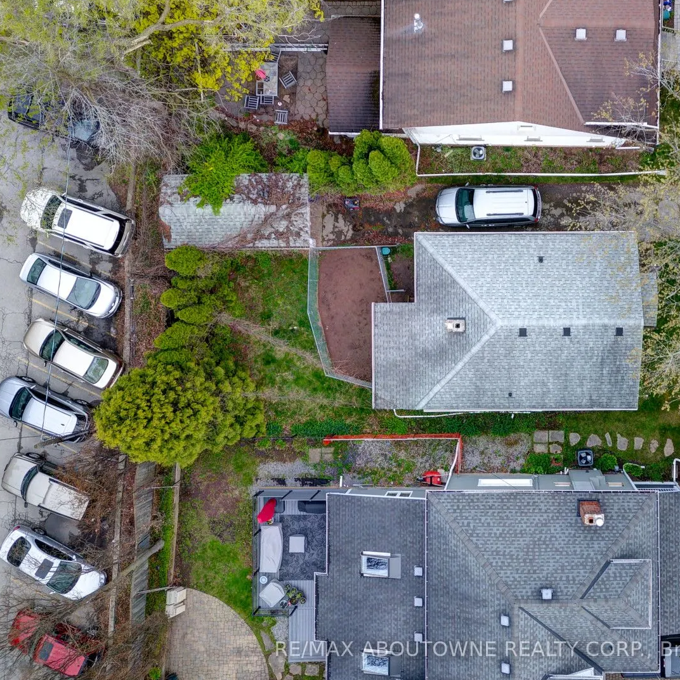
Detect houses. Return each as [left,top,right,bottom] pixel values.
[311,459,680,680]
[370,228,657,418]
[326,0,662,147]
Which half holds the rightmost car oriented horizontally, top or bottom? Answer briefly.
top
